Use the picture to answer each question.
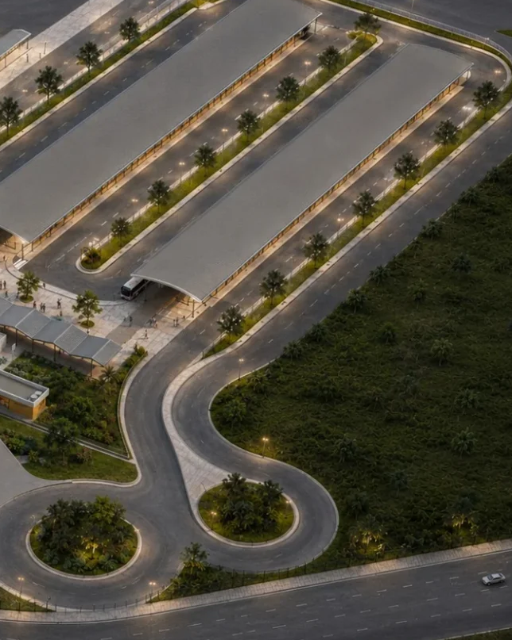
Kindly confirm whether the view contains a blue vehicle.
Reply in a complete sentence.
No, there is no blue vehicle in the image.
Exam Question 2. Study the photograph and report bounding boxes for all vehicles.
[477,570,508,585]
[124,277,163,305]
